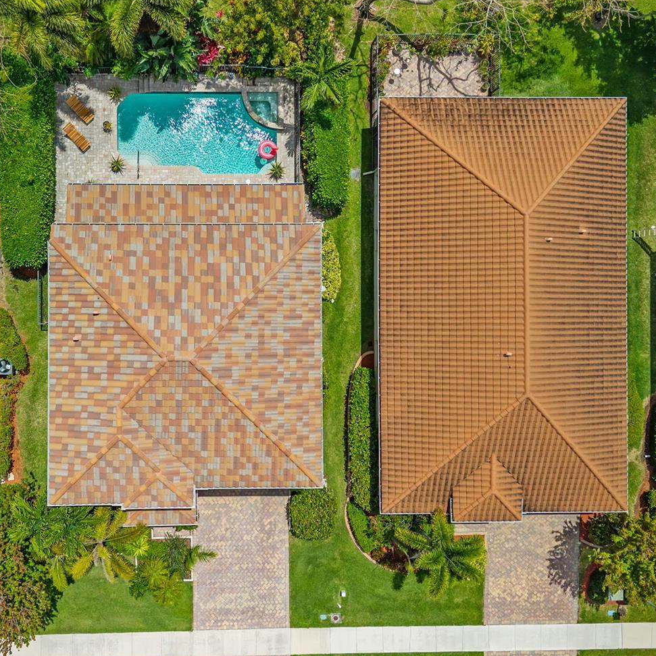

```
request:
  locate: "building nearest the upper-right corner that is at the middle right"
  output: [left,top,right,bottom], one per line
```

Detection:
[351,95,630,524]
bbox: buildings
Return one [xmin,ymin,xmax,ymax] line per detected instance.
[351,95,630,524]
[45,181,326,527]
